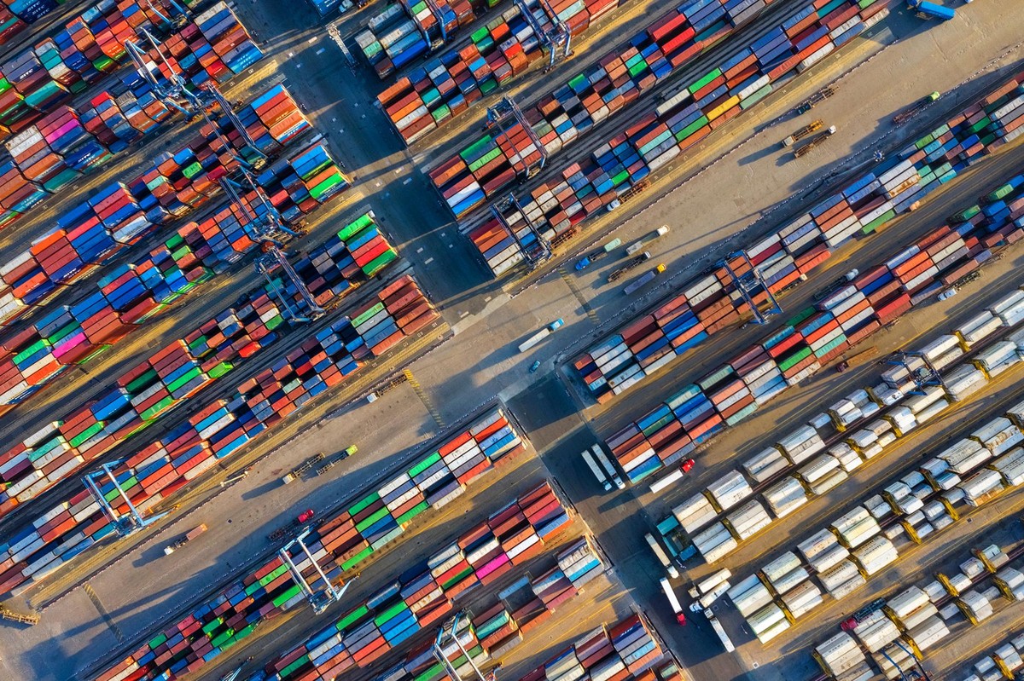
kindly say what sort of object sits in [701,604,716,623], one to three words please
vehicle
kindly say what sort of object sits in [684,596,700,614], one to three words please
vehicle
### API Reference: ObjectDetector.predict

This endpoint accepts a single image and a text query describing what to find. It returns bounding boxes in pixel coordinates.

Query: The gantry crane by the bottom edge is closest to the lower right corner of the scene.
[862,636,932,681]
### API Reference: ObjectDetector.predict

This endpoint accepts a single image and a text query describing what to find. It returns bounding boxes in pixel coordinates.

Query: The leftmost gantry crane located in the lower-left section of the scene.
[81,449,180,541]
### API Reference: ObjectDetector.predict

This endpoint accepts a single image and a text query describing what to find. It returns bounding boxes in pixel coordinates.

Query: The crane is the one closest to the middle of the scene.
[488,188,556,277]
